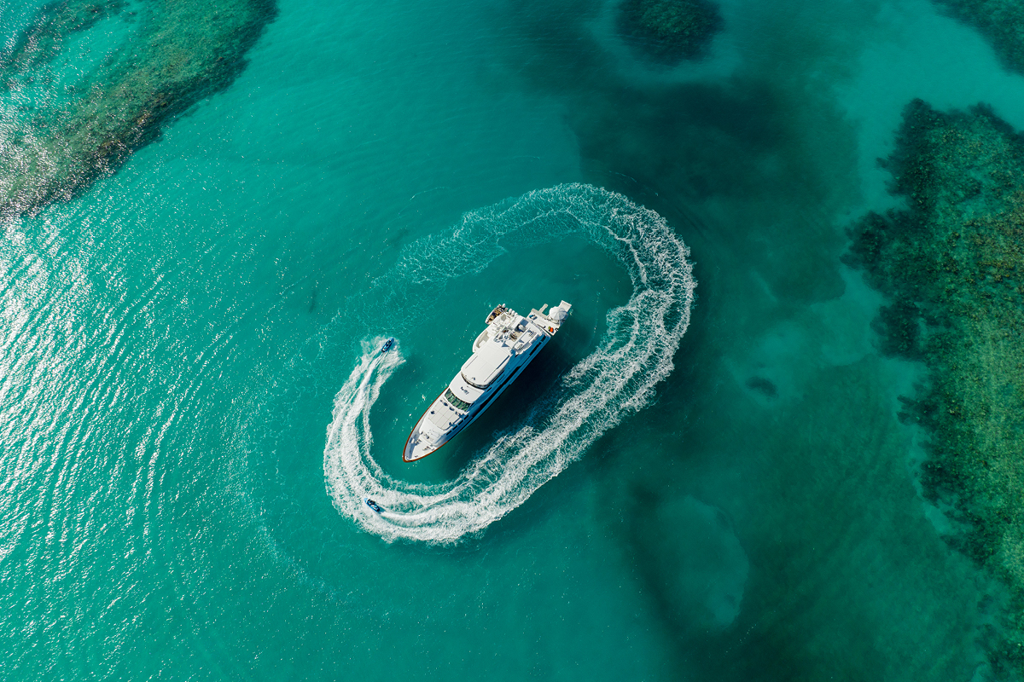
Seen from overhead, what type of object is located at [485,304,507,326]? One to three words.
boat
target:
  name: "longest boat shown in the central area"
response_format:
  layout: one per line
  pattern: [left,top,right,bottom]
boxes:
[402,304,558,467]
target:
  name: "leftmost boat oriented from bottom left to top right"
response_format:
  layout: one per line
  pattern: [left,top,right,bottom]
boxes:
[379,336,394,353]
